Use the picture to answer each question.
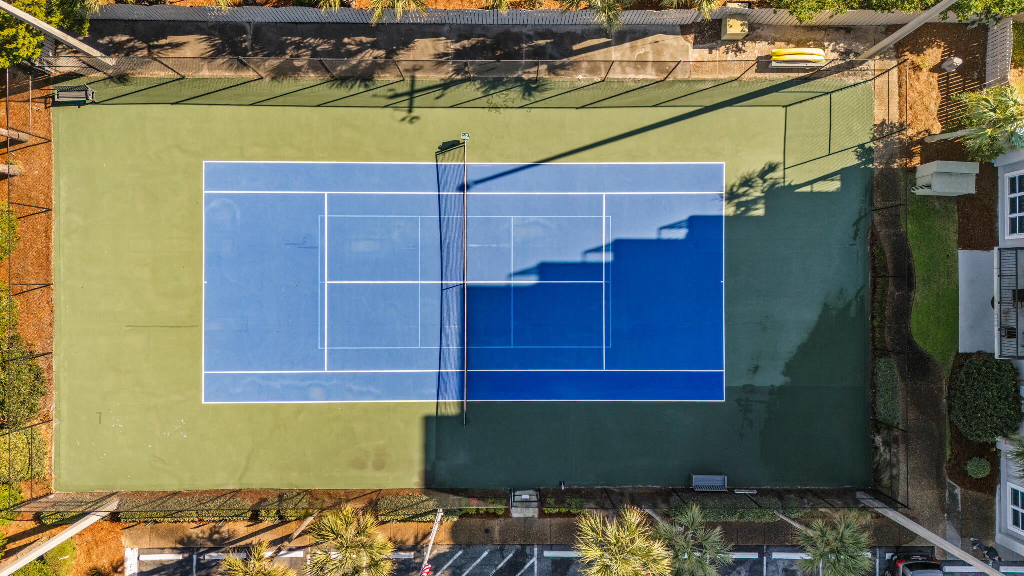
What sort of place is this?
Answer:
sports ground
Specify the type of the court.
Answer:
tennis court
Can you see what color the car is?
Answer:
black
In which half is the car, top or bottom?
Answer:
bottom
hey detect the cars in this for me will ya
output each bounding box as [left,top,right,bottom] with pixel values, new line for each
[888,550,940,576]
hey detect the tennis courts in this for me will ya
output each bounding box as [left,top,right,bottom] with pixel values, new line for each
[52,78,873,492]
